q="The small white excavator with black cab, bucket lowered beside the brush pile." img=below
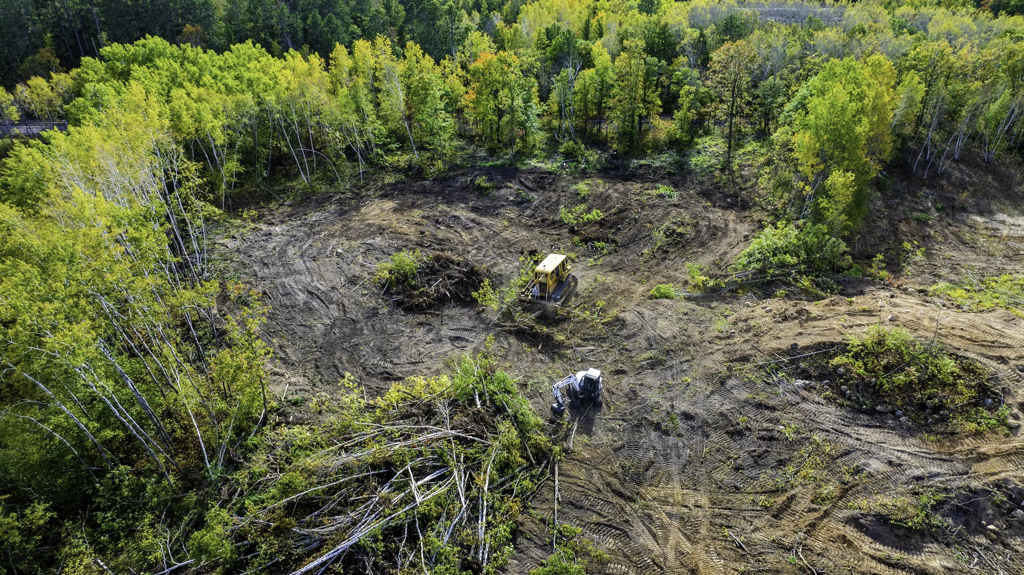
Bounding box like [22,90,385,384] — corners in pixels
[545,365,607,422]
